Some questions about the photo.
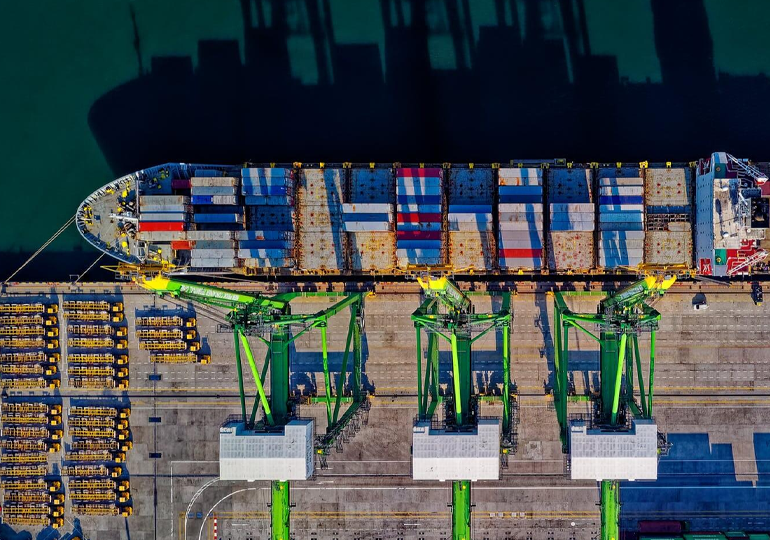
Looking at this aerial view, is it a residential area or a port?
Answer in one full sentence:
The area seen from above is a port.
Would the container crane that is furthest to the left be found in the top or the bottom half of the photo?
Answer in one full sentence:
Seen from above, the container crane that is furthest to the left lies in the bottom half of the view.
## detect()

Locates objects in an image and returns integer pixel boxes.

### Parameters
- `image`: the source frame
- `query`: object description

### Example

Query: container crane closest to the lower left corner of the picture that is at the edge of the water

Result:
[113,266,370,540]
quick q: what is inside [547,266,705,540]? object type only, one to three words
container crane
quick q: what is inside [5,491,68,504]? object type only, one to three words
vehicle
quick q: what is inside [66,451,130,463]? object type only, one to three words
vehicle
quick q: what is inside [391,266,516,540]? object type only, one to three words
container crane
